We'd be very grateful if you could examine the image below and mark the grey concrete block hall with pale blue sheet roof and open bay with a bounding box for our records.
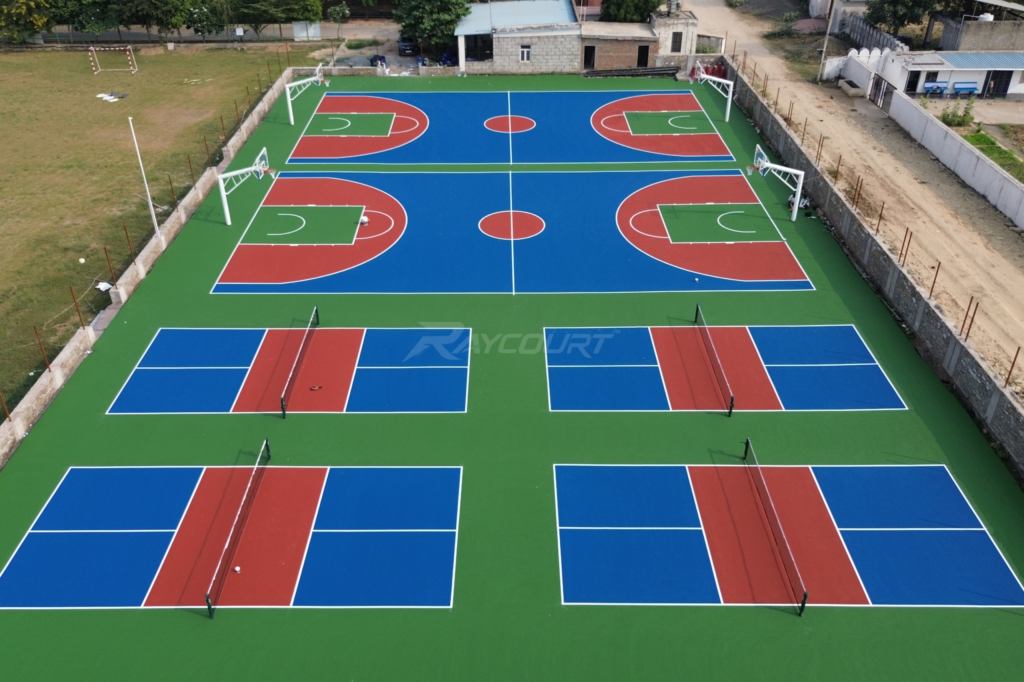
[454,0,582,73]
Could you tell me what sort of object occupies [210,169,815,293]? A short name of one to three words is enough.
basketball court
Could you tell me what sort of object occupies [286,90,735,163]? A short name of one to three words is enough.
basketball court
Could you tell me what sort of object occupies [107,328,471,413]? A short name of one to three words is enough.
sports court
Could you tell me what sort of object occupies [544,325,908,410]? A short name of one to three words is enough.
sports court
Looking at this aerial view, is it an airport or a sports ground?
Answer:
sports ground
